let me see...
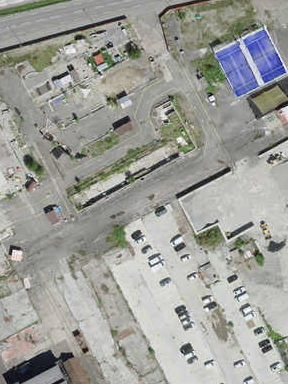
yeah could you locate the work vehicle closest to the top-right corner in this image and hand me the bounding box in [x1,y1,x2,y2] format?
[268,152,286,166]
